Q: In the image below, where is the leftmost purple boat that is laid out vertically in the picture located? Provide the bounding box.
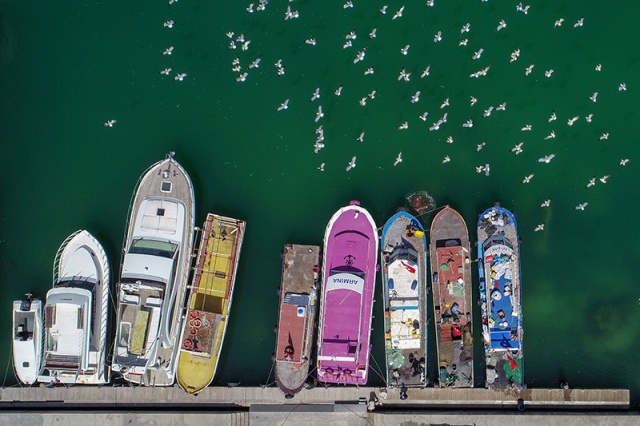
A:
[313,199,381,388]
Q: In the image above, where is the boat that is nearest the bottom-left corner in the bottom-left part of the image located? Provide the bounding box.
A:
[12,294,48,385]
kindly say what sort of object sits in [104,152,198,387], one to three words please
boat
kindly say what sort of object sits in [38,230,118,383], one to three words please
boat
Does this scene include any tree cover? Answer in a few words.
No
